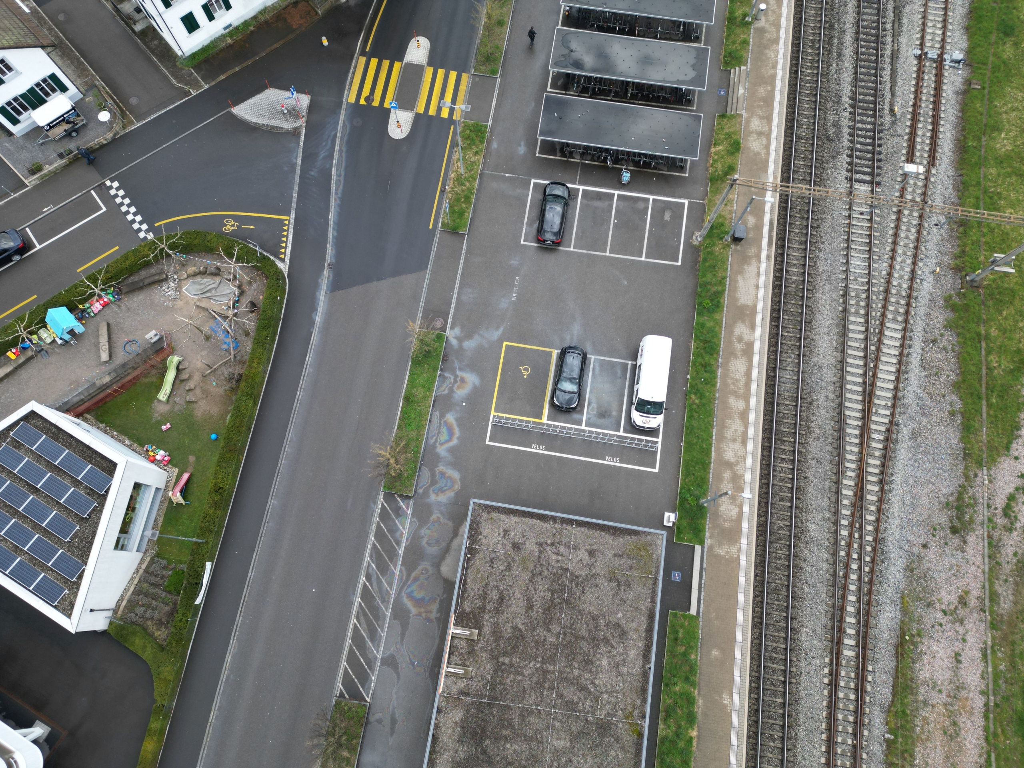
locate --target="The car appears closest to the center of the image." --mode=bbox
[549,344,588,413]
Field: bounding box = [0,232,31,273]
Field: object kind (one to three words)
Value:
car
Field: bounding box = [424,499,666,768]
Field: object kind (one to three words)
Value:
building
